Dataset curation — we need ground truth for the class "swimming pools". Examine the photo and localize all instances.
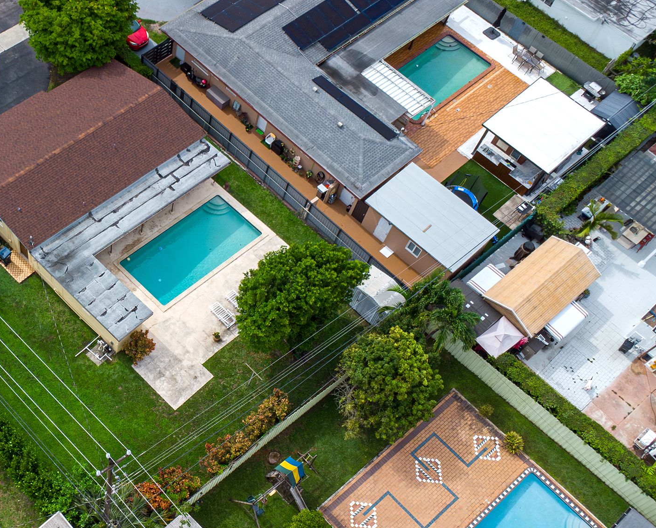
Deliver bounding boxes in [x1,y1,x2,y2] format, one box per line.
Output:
[465,465,599,528]
[114,189,268,310]
[374,30,496,124]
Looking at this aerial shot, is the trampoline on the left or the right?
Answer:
right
